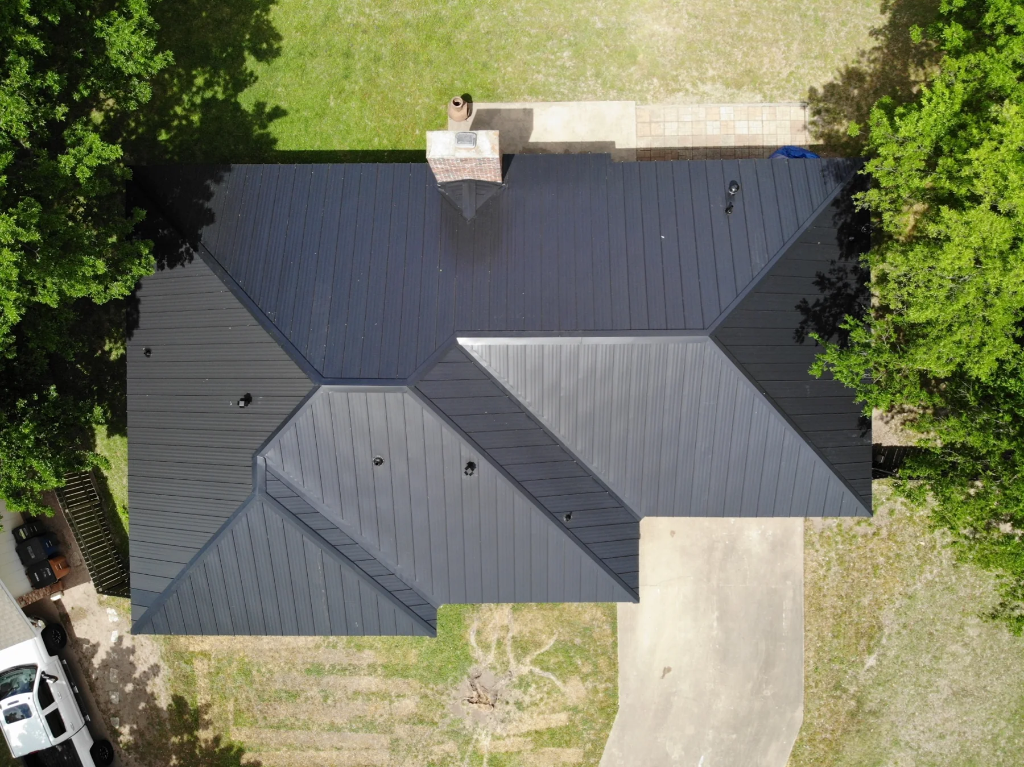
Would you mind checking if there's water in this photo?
No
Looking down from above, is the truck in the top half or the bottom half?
bottom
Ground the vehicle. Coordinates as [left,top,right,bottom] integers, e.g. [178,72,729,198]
[0,607,112,767]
